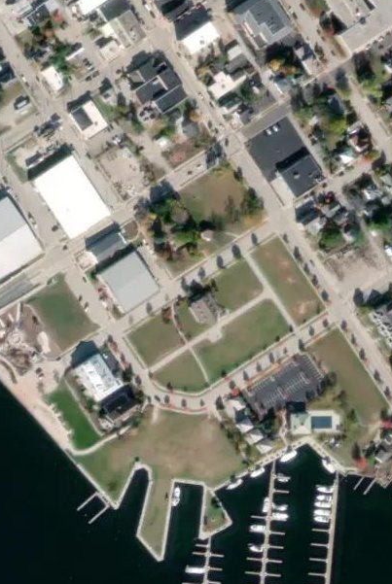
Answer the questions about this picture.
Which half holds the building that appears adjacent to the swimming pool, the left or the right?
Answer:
right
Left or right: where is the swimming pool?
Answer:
right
